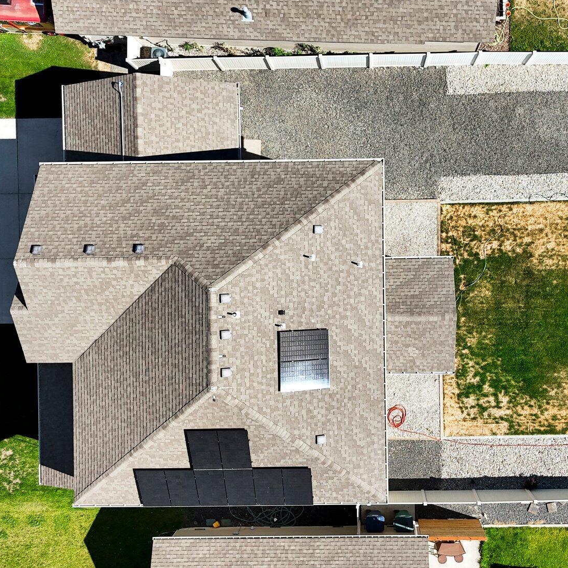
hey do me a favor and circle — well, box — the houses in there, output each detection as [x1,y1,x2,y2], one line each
[49,0,496,48]
[10,72,457,509]
[149,526,430,568]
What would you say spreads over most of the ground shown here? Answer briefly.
buildings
